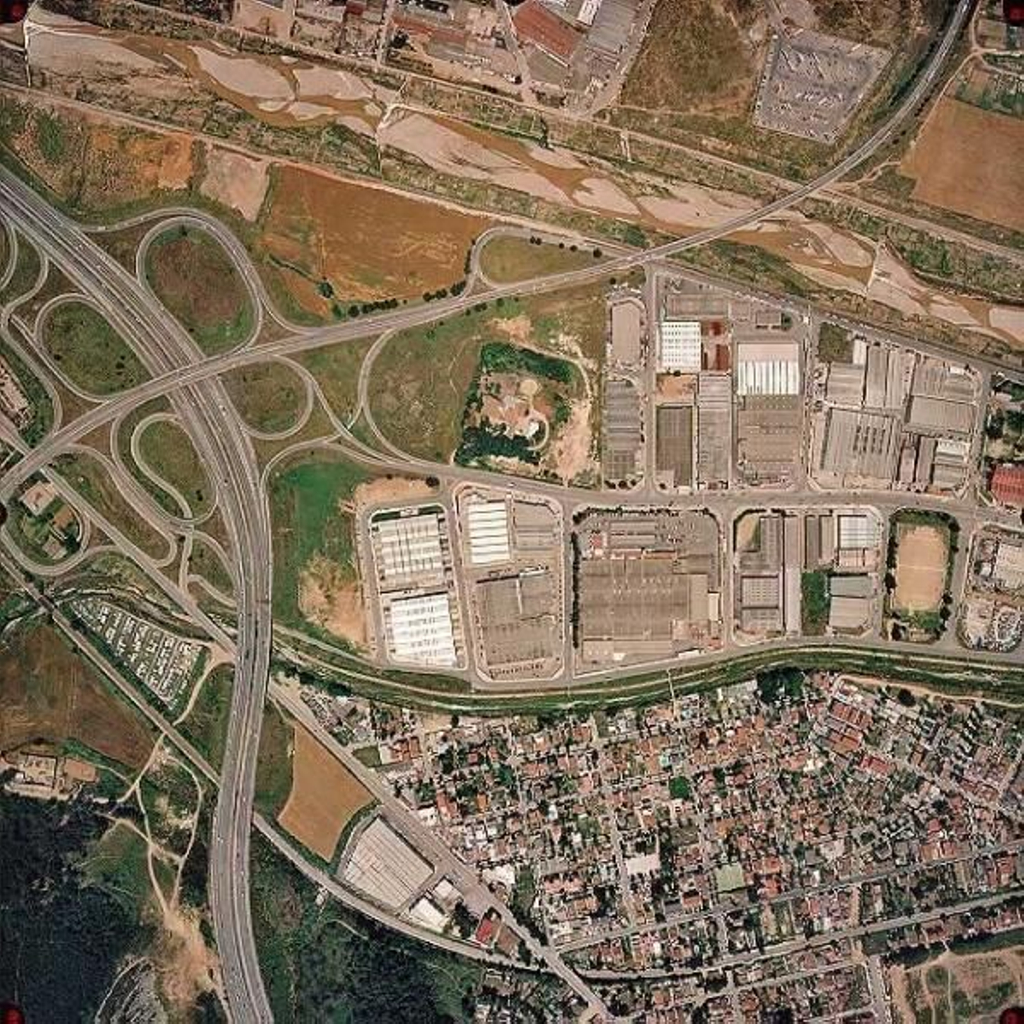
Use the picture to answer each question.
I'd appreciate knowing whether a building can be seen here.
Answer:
Yes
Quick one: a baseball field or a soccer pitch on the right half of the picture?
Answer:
soccer pitch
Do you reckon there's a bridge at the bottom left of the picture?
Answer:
Yes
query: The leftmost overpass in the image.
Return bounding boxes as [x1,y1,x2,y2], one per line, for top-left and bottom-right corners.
[15,445,52,478]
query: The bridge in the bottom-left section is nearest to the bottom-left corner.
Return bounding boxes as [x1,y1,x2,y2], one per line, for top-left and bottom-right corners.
[216,775,256,810]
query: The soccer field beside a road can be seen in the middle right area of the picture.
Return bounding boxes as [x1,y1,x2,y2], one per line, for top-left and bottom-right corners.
[894,525,948,609]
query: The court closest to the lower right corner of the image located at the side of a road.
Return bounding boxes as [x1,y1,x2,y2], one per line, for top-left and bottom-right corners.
[717,864,746,895]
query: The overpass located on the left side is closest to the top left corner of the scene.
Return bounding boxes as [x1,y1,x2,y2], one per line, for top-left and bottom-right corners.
[146,355,226,398]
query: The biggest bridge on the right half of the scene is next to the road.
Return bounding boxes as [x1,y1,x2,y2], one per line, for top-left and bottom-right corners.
[639,171,831,261]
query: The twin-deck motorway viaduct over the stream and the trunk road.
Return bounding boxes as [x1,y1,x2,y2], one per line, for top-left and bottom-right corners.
[232,612,272,698]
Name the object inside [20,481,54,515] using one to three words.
house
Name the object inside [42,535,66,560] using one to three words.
house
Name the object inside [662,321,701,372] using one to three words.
building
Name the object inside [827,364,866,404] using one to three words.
building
